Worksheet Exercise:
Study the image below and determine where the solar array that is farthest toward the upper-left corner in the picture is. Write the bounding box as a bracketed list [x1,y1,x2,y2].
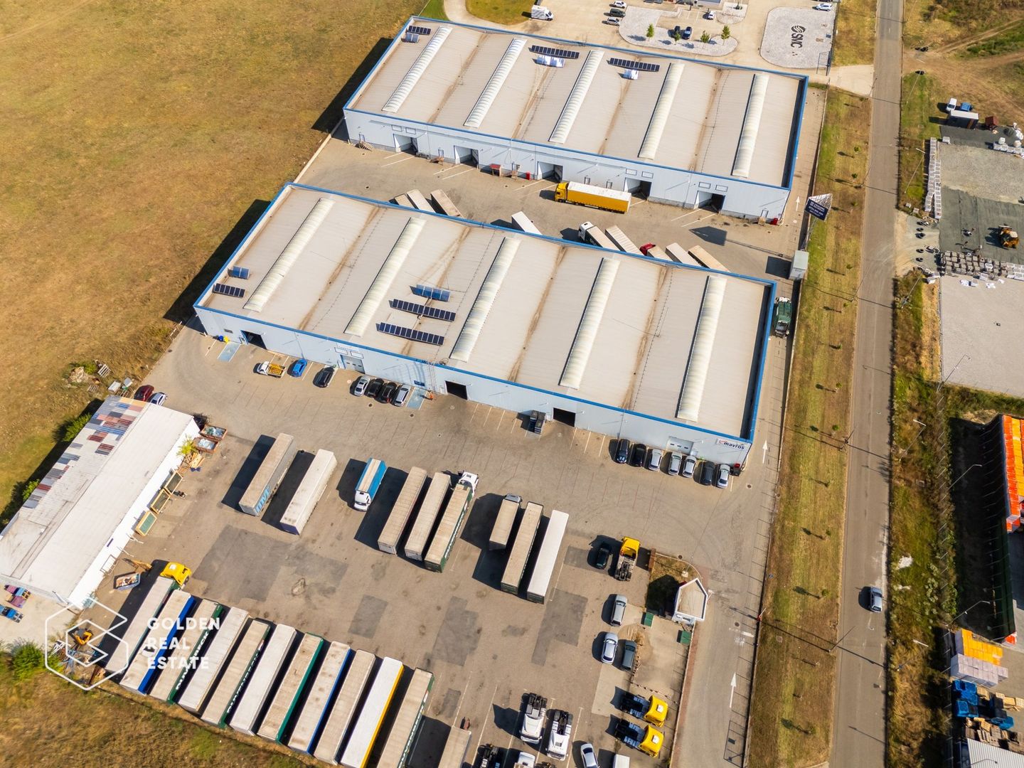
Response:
[213,284,245,300]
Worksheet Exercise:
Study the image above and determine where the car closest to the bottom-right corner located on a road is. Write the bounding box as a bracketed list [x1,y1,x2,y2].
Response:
[868,586,885,615]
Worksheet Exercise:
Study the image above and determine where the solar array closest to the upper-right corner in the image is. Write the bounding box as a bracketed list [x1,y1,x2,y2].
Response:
[608,58,659,74]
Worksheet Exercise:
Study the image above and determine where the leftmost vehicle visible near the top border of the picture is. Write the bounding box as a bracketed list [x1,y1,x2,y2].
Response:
[530,2,553,19]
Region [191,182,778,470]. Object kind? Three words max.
warehouse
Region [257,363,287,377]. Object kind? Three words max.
vehicle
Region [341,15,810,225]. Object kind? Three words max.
warehouse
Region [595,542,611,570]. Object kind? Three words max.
car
